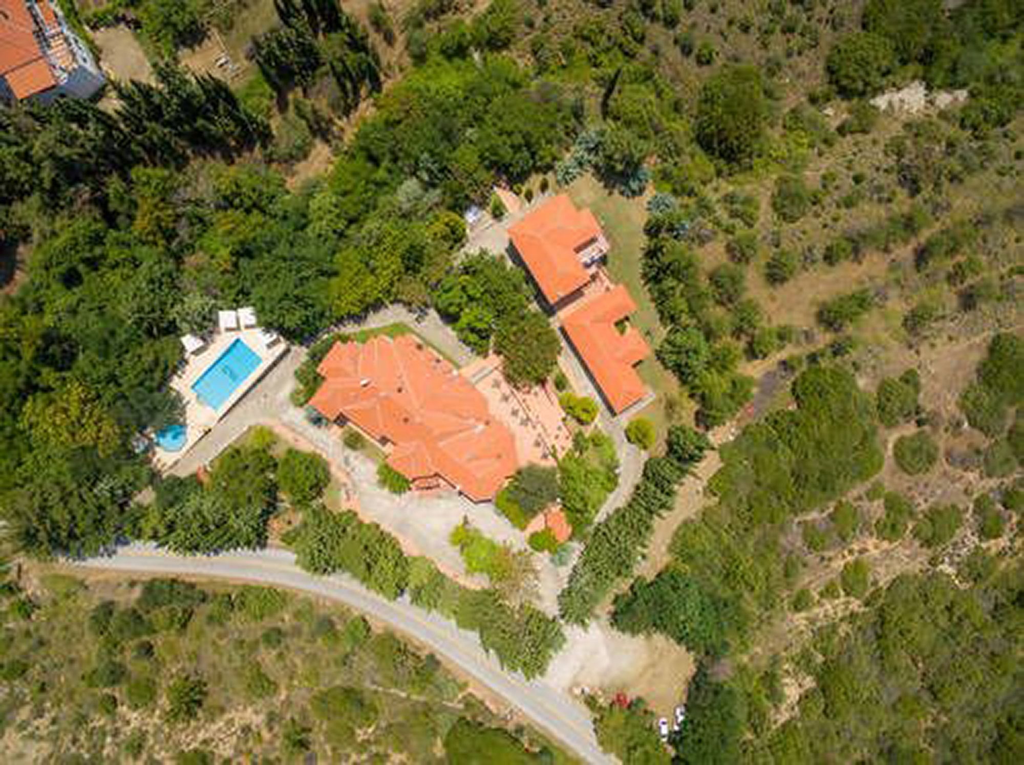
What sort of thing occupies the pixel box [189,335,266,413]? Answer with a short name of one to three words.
swimming pool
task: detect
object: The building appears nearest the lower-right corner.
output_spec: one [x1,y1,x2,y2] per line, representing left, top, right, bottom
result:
[547,508,572,543]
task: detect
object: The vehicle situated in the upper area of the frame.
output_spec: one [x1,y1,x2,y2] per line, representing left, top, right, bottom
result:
[464,203,481,226]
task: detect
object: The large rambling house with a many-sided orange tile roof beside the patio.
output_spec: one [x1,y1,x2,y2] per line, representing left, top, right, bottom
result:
[308,334,517,503]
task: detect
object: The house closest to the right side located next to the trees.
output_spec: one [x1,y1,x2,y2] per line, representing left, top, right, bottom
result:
[561,284,651,414]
